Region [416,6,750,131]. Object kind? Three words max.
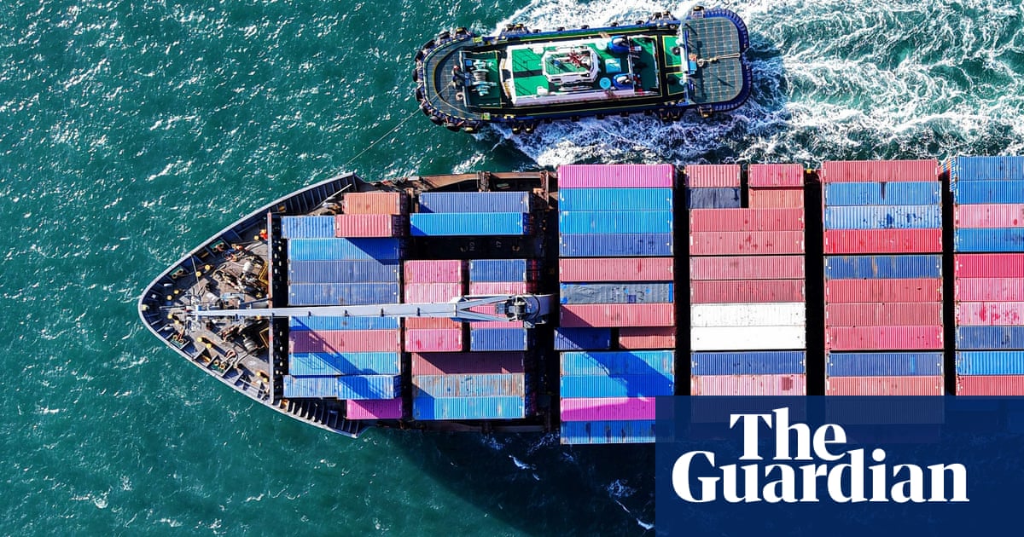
boat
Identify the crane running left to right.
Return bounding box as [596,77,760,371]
[173,291,562,334]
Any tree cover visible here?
No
